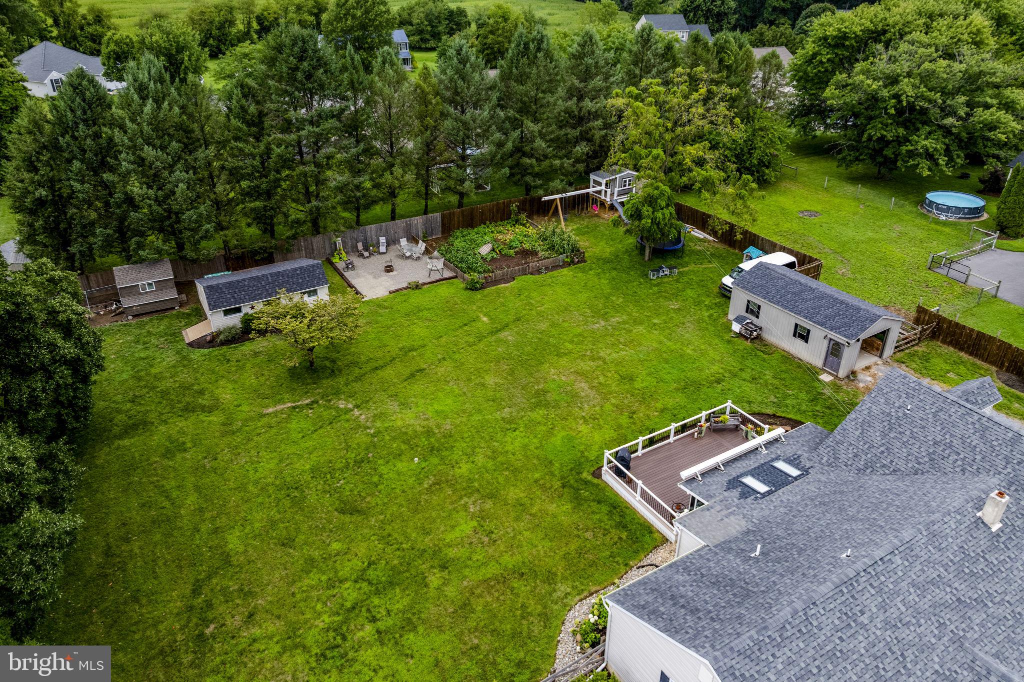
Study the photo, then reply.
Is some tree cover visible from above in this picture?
Yes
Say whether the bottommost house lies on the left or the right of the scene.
right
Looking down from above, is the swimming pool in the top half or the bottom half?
top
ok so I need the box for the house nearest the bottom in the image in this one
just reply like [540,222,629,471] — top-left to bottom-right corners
[584,367,1024,682]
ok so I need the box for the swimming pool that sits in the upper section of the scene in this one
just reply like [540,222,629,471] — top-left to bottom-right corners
[916,190,989,226]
